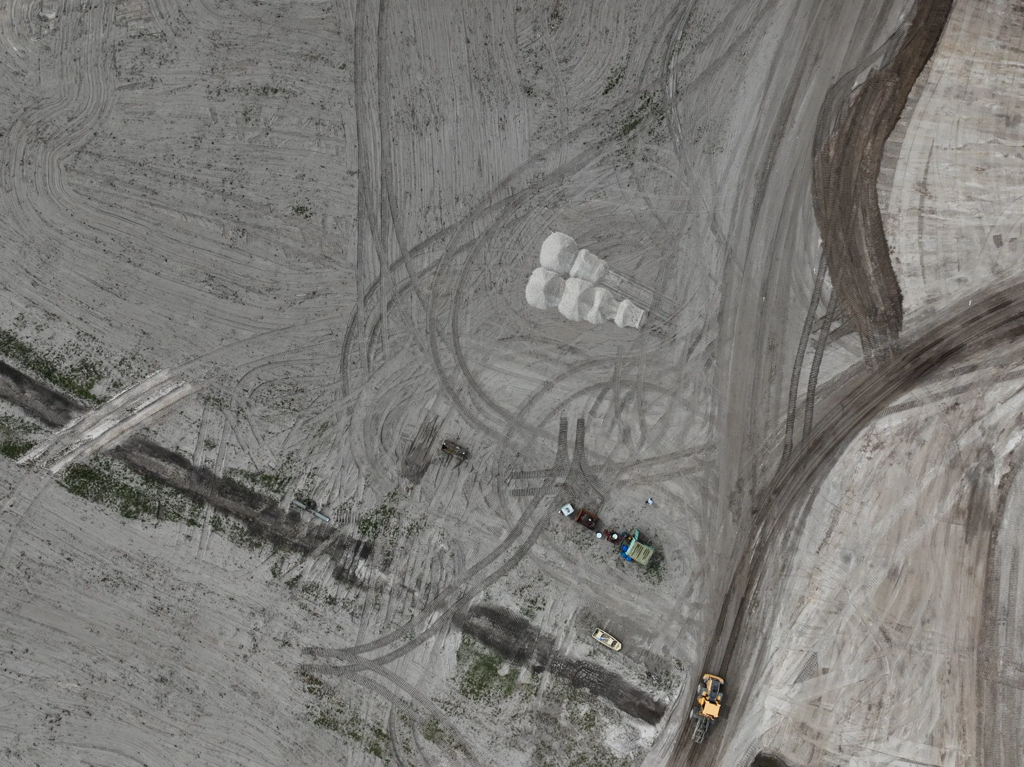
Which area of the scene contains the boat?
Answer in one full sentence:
The boat is located in the bottom region of the scene.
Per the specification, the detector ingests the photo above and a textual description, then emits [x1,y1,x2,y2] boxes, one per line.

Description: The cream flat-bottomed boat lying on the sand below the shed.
[592,628,621,651]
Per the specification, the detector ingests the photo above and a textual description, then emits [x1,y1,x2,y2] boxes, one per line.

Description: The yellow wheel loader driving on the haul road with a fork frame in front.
[689,672,725,743]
